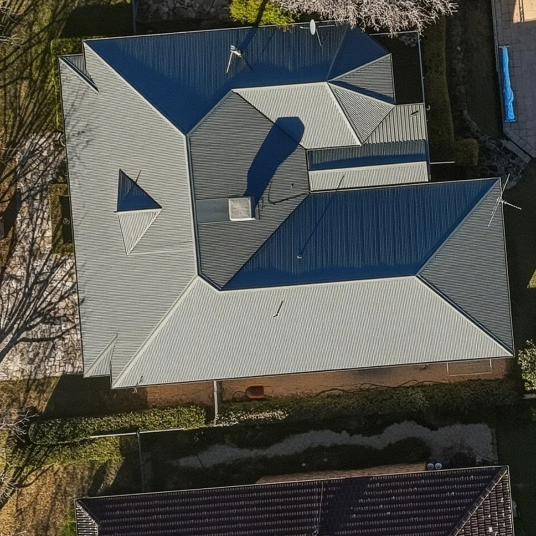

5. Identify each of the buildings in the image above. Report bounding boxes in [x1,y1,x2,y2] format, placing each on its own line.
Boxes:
[54,21,516,392]
[72,459,516,536]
